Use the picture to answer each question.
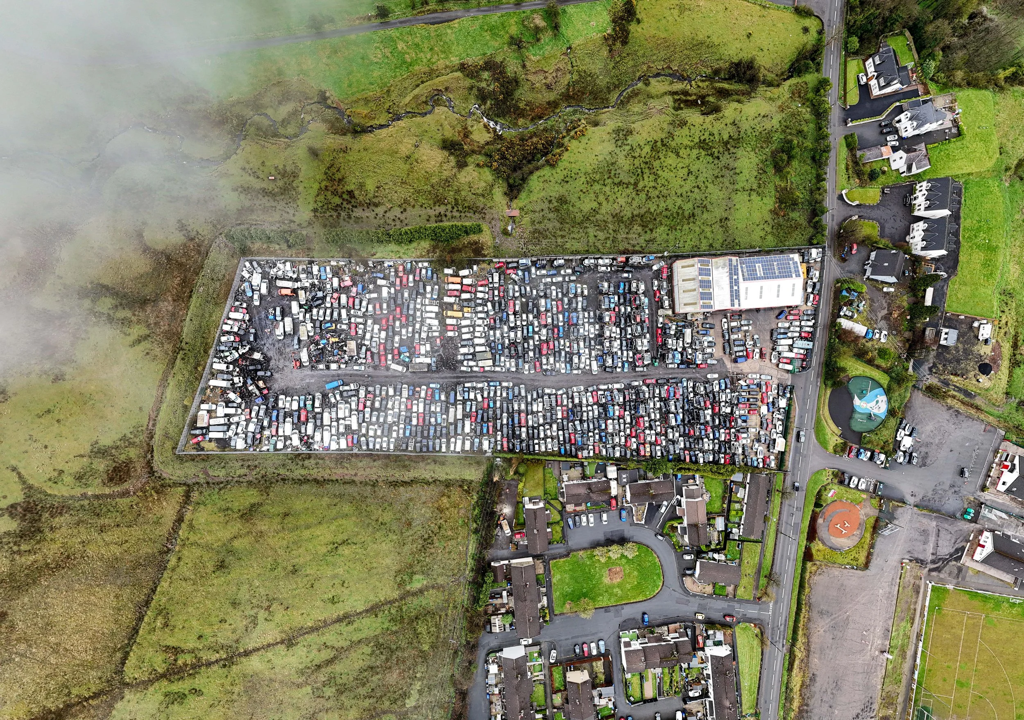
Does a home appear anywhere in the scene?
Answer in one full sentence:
Yes, I can see a home in this picture.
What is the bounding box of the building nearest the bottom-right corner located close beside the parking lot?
[968,528,1024,577]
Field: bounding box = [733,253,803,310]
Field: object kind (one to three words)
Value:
building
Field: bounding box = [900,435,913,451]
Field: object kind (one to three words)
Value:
vehicle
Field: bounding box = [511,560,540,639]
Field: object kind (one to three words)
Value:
house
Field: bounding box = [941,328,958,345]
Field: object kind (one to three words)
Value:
camper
